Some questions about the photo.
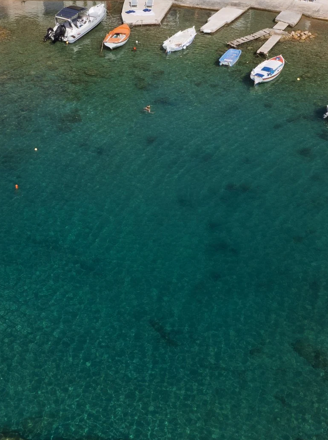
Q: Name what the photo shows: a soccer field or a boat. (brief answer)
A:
boat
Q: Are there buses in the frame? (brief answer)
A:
No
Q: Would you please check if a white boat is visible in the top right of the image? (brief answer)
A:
Yes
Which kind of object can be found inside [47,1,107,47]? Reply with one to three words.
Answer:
boat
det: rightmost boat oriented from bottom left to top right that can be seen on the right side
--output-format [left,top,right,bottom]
[252,49,283,90]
